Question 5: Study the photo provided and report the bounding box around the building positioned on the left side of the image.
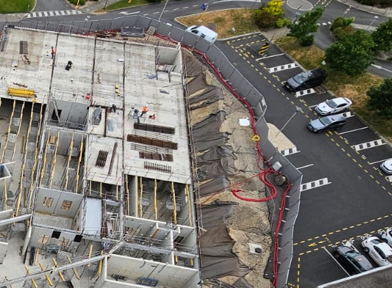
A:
[0,25,203,288]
